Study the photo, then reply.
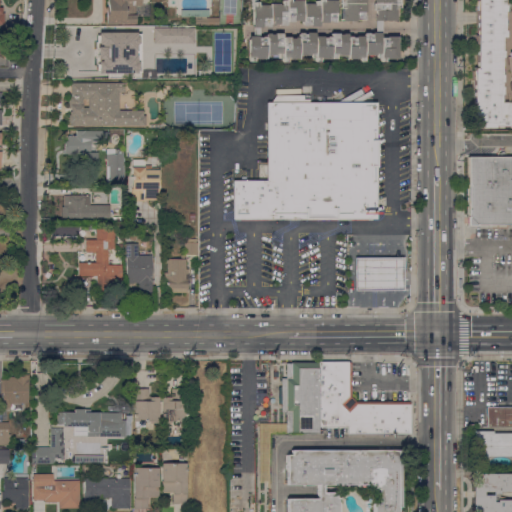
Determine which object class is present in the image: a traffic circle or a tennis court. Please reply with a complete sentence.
It is a tennis court that can be seen here.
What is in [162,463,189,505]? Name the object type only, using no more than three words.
house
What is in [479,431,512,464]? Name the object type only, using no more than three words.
building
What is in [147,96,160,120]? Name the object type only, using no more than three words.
swimming pool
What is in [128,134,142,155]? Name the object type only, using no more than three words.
swimming pool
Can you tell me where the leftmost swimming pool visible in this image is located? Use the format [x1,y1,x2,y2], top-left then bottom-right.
[12,452,27,474]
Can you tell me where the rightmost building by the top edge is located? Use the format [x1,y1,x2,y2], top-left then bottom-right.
[476,0,512,127]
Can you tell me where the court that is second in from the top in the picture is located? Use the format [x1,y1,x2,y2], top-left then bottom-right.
[214,32,232,74]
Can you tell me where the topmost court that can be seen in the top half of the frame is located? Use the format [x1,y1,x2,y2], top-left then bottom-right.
[220,0,242,24]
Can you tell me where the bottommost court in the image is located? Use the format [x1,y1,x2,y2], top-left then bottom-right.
[164,97,236,128]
